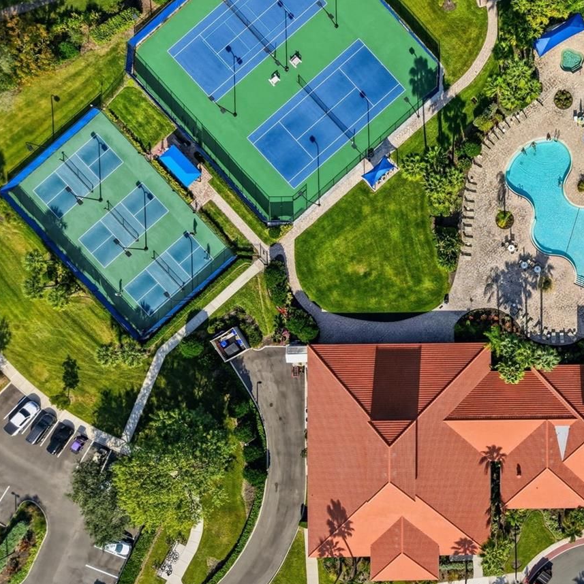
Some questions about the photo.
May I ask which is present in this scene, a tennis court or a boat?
tennis court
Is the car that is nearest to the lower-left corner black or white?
white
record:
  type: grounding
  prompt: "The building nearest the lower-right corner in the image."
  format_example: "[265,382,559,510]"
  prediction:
[307,345,584,581]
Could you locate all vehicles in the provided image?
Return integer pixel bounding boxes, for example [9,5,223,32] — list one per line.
[22,412,55,447]
[100,539,132,560]
[43,422,73,457]
[532,568,553,584]
[1,401,37,435]
[65,436,85,453]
